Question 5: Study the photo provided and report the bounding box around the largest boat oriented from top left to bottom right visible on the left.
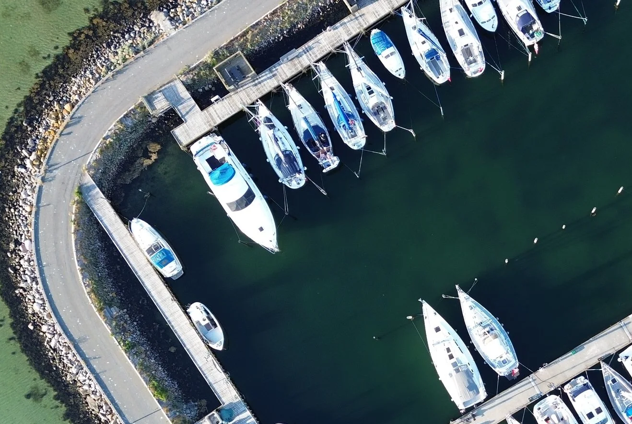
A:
[192,131,280,252]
